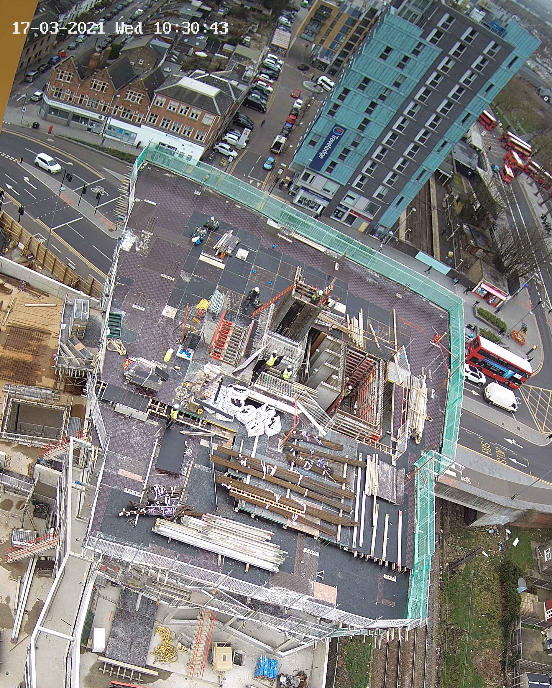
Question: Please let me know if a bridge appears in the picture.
Yes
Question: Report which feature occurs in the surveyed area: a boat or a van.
van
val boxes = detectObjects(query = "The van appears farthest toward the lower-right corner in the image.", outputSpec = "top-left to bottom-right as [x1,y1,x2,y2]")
[483,381,522,413]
